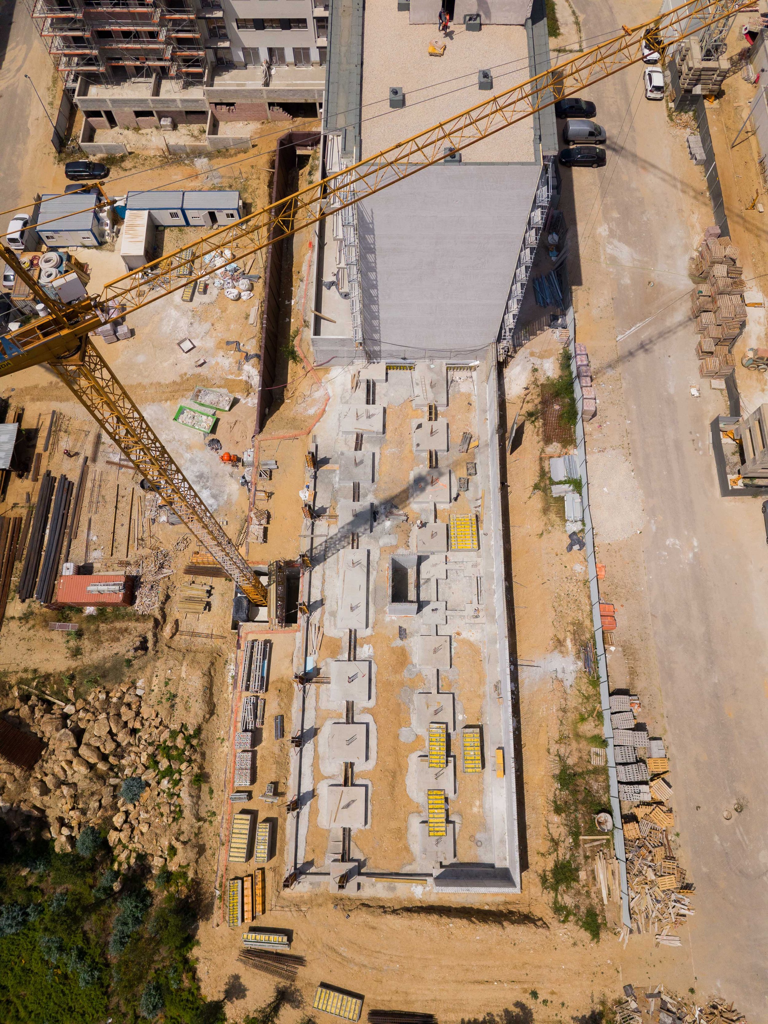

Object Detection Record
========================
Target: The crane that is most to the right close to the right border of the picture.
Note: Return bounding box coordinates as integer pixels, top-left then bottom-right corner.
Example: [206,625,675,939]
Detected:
[720,405,768,493]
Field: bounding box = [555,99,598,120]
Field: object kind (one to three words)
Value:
car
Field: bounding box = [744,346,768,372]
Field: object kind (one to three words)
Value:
truck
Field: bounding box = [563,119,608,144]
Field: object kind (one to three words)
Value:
car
